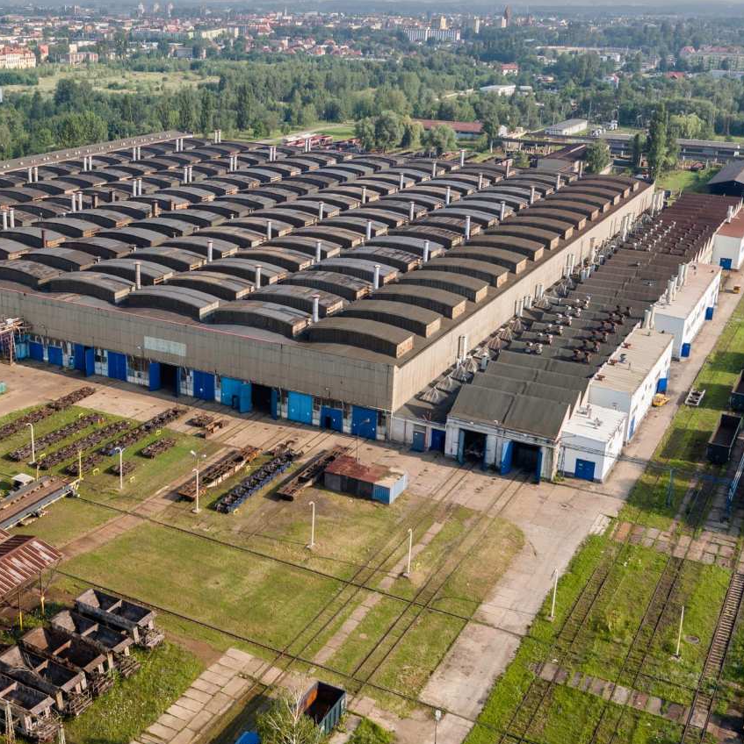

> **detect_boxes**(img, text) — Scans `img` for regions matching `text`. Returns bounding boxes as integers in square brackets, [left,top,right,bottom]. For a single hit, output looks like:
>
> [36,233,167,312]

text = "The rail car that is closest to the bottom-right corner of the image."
[705,414,742,465]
